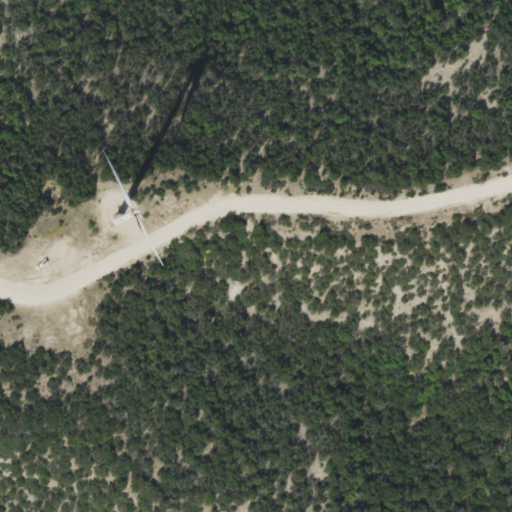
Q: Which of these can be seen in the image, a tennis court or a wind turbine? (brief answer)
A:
wind turbine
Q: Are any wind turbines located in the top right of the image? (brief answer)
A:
No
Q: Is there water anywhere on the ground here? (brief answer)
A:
No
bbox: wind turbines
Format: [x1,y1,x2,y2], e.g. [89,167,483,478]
[102,150,163,266]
